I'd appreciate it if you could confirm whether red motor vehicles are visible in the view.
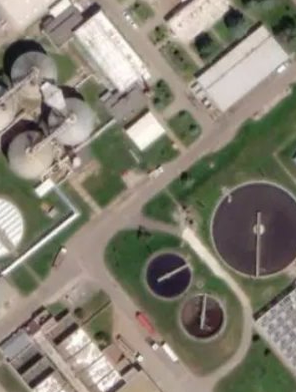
Yes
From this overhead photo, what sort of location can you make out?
industrial area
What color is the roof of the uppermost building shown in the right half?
white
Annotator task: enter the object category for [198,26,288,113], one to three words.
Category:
building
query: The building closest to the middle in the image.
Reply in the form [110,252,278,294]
[125,112,165,151]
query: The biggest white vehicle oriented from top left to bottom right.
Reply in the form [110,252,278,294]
[162,342,179,362]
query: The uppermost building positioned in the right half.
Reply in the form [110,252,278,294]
[168,0,237,41]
